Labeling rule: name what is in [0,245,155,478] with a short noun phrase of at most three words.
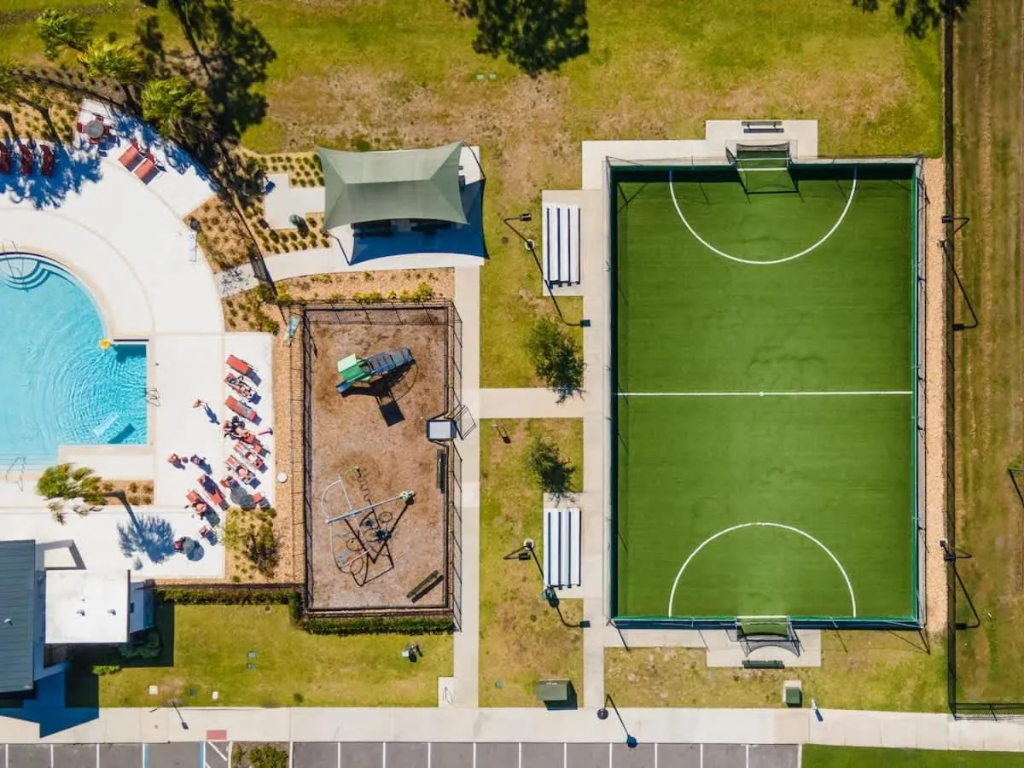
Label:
swimming pool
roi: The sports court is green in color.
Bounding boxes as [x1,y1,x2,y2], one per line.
[612,147,913,639]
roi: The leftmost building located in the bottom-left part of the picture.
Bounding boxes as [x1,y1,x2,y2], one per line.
[0,538,158,693]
